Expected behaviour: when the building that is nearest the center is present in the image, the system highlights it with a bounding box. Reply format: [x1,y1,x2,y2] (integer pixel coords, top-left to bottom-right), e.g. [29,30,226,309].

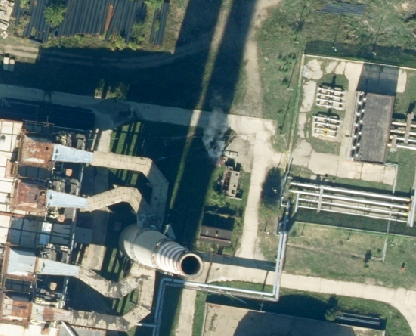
[221,166,239,198]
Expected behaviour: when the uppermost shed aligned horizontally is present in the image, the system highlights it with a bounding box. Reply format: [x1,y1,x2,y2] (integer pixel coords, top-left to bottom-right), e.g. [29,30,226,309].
[0,100,95,130]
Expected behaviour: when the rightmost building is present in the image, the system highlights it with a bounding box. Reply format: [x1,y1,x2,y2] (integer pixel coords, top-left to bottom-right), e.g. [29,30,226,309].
[347,92,396,164]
